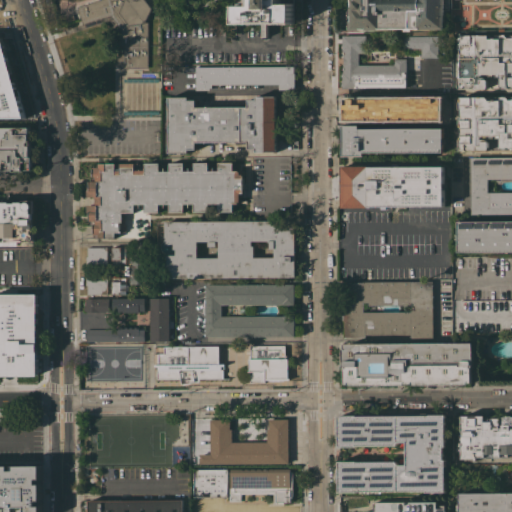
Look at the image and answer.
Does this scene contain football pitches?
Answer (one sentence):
Yes, a football pitch is visible in the scene.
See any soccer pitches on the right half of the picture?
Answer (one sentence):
No, no soccer pitch appears on the right half of the picture.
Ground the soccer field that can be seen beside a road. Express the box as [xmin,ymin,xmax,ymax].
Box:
[91,416,179,465]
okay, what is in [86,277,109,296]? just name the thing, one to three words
house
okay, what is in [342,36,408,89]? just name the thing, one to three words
house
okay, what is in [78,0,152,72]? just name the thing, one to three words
building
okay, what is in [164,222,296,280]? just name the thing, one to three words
building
